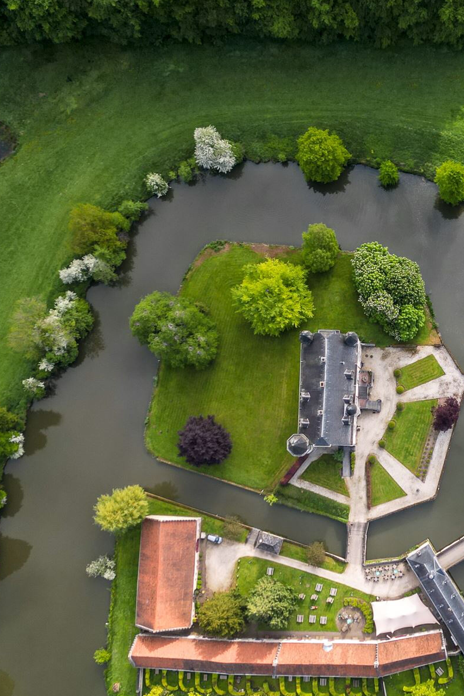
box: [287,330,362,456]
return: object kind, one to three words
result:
building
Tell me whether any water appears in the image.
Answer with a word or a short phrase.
Yes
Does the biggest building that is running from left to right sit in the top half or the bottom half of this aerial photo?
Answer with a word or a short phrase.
bottom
